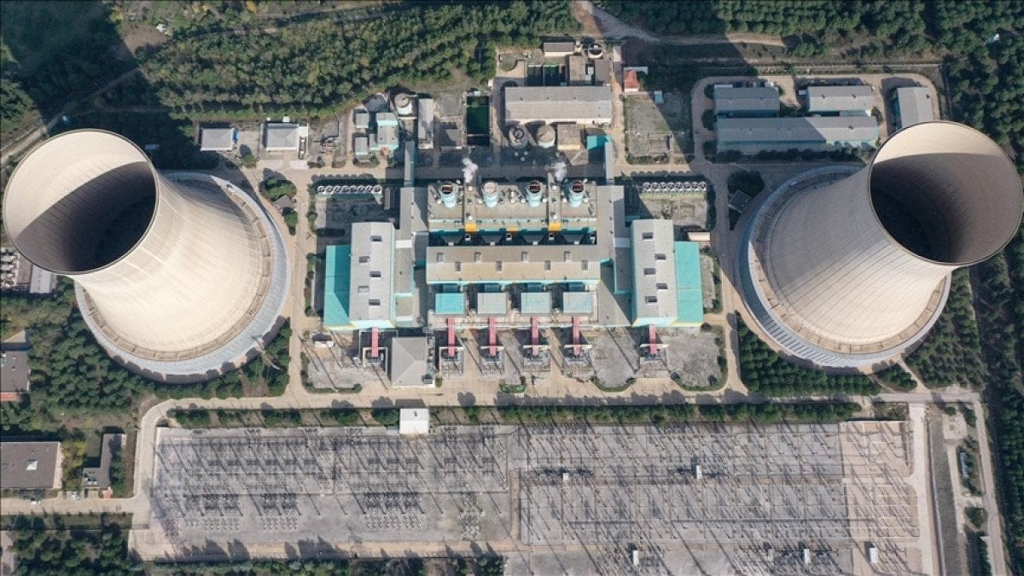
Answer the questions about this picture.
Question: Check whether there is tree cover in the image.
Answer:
Yes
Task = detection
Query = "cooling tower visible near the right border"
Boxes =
[738,118,1024,374]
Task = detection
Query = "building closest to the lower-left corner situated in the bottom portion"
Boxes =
[0,441,68,489]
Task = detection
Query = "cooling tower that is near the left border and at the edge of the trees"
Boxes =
[2,126,290,381]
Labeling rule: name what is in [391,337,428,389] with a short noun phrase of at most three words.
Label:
building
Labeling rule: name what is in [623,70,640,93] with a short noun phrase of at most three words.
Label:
house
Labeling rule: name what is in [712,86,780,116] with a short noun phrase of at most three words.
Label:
building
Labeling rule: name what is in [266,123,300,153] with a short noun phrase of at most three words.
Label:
house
